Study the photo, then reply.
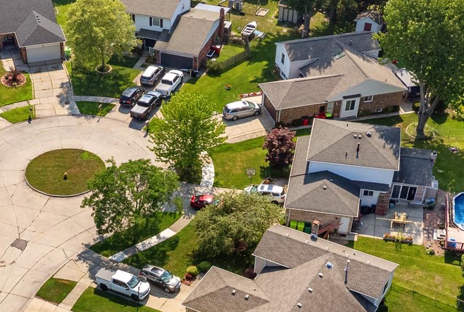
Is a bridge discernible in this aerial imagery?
No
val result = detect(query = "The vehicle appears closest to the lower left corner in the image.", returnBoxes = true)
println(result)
[97,270,150,304]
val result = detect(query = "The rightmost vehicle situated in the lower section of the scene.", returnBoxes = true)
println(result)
[244,183,285,204]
